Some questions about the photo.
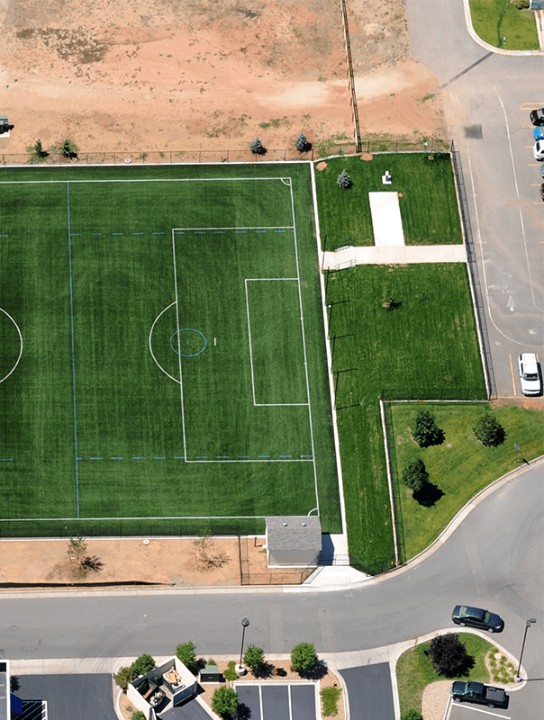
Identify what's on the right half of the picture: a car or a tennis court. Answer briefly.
car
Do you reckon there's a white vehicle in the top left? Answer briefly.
No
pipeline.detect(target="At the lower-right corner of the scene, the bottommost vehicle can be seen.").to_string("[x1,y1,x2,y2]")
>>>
[449,681,512,712]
